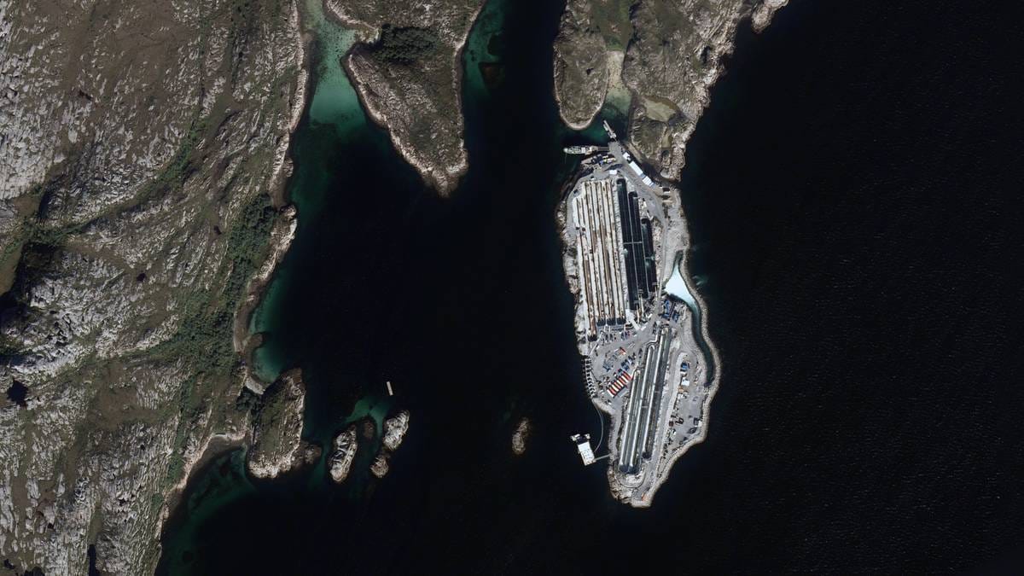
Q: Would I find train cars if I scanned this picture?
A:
No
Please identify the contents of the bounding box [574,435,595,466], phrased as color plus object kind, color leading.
white ship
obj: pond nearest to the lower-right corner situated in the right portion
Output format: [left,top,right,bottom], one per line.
[663,248,716,383]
